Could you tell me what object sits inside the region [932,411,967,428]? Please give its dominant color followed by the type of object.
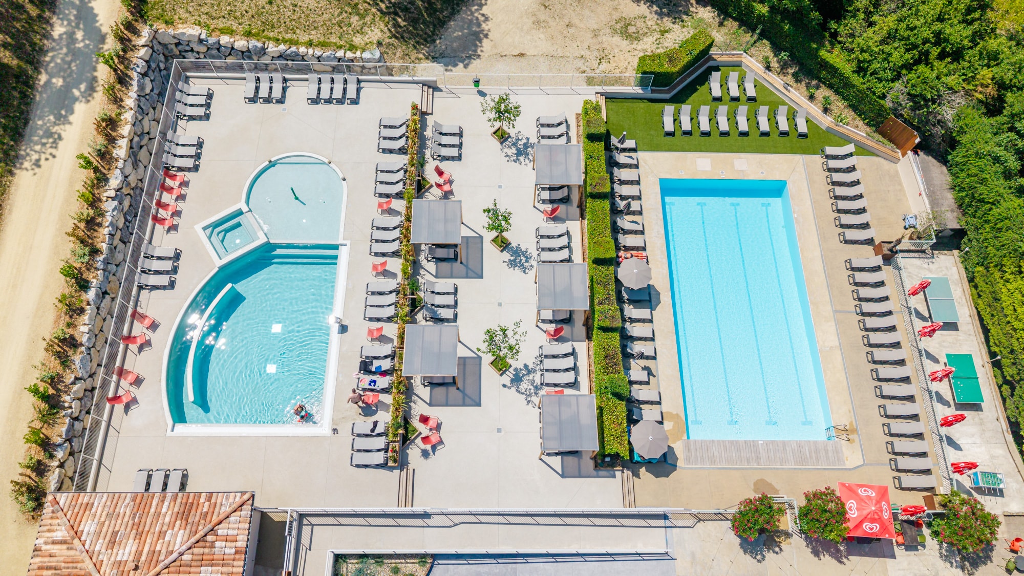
red umbrella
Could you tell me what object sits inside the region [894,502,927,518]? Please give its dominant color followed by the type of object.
red umbrella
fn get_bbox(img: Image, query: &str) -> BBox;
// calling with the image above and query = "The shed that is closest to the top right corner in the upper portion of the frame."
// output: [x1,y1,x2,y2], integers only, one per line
[874,117,918,156]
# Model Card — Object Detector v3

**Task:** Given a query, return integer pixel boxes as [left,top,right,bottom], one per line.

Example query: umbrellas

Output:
[620,199,633,220]
[616,260,651,293]
[942,458,979,474]
[920,366,955,383]
[894,502,927,518]
[932,411,967,428]
[911,322,942,341]
[631,348,646,365]
[627,419,670,463]
[837,482,896,539]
